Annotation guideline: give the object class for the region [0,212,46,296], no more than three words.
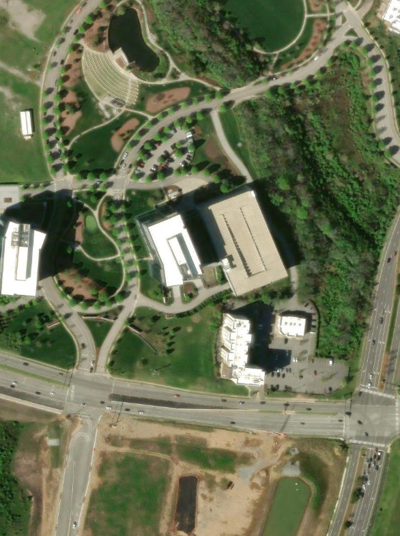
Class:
building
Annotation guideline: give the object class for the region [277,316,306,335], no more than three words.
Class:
building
